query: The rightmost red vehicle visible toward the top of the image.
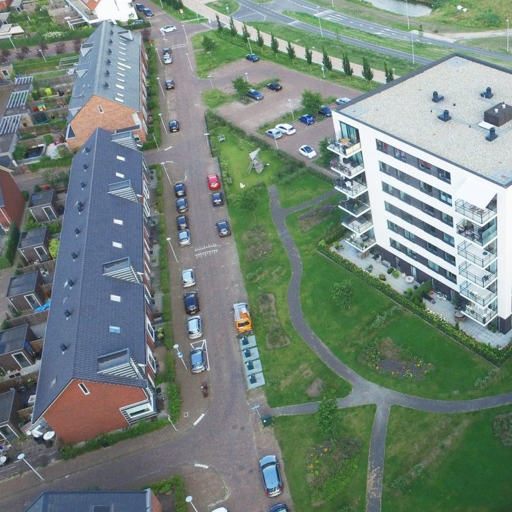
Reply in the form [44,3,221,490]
[205,174,220,190]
